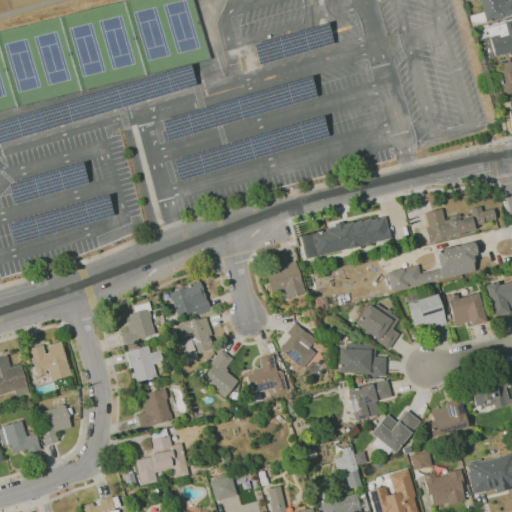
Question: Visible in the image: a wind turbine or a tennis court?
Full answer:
I can see a tennis court in this picture.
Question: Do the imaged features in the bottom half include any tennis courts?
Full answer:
No, I can find no tennis court in the bottom half.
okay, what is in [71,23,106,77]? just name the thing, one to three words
tennis court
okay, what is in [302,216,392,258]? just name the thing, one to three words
building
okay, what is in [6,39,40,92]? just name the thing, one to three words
tennis court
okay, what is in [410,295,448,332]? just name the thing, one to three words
house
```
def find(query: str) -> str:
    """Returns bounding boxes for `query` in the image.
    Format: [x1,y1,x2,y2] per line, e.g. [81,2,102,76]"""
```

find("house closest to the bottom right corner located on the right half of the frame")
[470,453,512,496]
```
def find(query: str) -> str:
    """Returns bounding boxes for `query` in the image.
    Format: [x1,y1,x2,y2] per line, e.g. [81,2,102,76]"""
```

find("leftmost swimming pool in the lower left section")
[36,382,57,398]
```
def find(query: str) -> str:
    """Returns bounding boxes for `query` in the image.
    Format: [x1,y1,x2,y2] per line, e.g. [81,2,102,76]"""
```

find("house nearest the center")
[269,262,311,298]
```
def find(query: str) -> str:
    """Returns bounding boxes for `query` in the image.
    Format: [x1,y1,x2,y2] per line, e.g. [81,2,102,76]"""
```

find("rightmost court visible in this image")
[166,0,200,54]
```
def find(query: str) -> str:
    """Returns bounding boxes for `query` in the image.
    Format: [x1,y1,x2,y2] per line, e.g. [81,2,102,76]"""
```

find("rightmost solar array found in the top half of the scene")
[258,22,335,63]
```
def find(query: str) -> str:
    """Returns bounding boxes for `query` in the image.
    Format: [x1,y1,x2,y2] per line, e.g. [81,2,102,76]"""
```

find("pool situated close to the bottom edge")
[184,486,206,500]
